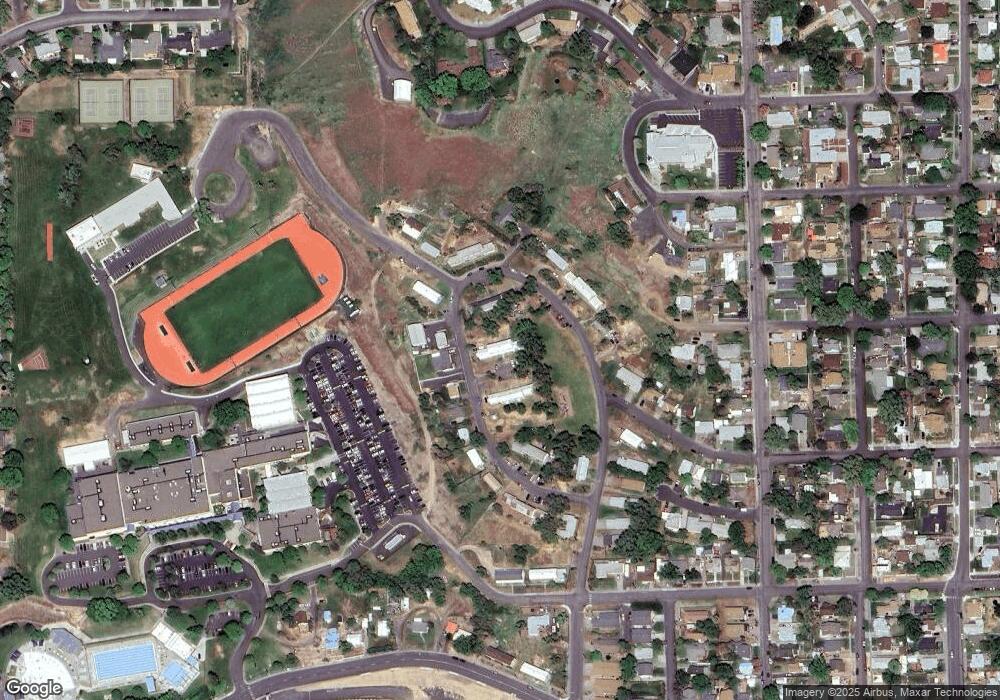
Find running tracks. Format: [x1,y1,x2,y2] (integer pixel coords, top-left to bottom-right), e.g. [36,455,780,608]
[140,213,345,387]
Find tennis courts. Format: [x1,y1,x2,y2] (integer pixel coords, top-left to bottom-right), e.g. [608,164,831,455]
[130,78,173,122]
[79,78,123,123]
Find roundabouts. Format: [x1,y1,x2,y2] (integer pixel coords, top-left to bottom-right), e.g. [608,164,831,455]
[198,158,255,219]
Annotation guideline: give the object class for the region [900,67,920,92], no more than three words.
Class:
house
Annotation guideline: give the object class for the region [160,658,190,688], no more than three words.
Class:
swimming pool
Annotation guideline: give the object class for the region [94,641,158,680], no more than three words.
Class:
swimming pool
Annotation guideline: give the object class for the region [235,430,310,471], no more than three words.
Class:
building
